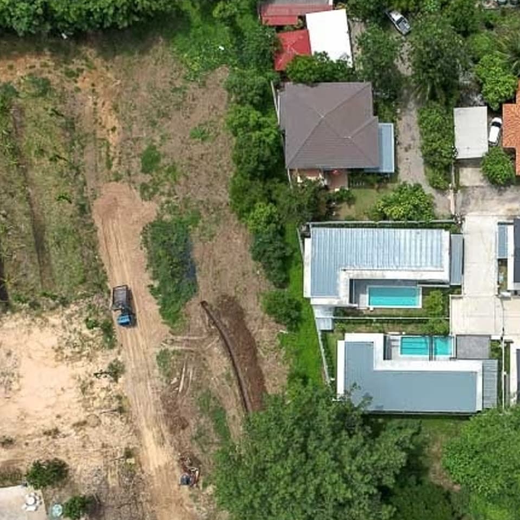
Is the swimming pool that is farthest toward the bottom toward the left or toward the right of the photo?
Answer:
right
